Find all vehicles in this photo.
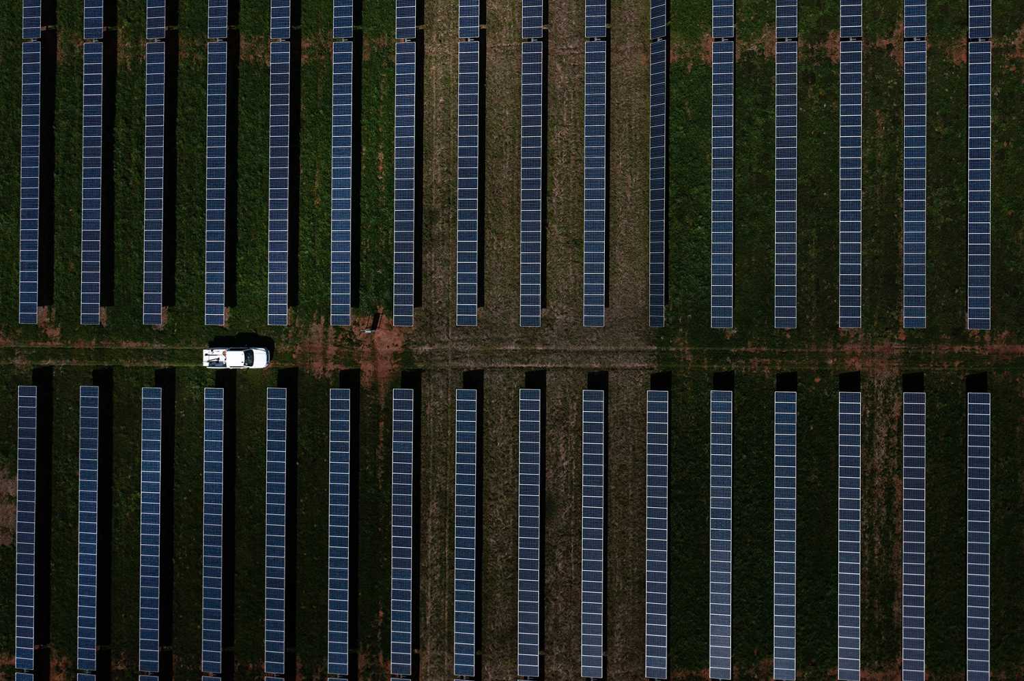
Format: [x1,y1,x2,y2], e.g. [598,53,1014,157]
[203,346,270,370]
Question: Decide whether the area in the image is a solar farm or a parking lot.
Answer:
solar farm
